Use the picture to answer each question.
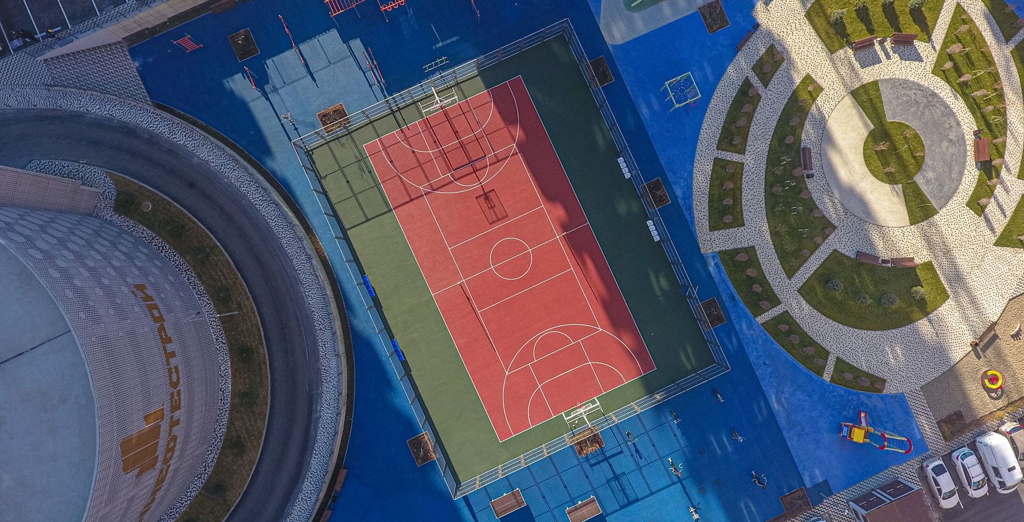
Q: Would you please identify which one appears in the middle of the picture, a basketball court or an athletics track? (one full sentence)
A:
Visible in the middle of the picture is a basketball court.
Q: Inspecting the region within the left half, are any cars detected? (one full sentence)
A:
No, the scene shows no car within the left half.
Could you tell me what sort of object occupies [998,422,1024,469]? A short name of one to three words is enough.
car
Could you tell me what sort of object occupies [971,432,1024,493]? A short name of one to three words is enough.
van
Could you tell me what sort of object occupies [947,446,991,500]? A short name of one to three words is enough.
car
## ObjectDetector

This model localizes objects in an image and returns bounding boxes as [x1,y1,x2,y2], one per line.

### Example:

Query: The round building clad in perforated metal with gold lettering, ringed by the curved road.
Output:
[0,173,219,522]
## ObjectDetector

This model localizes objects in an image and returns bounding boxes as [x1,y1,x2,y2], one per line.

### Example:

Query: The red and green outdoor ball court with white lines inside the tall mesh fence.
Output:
[307,33,715,482]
